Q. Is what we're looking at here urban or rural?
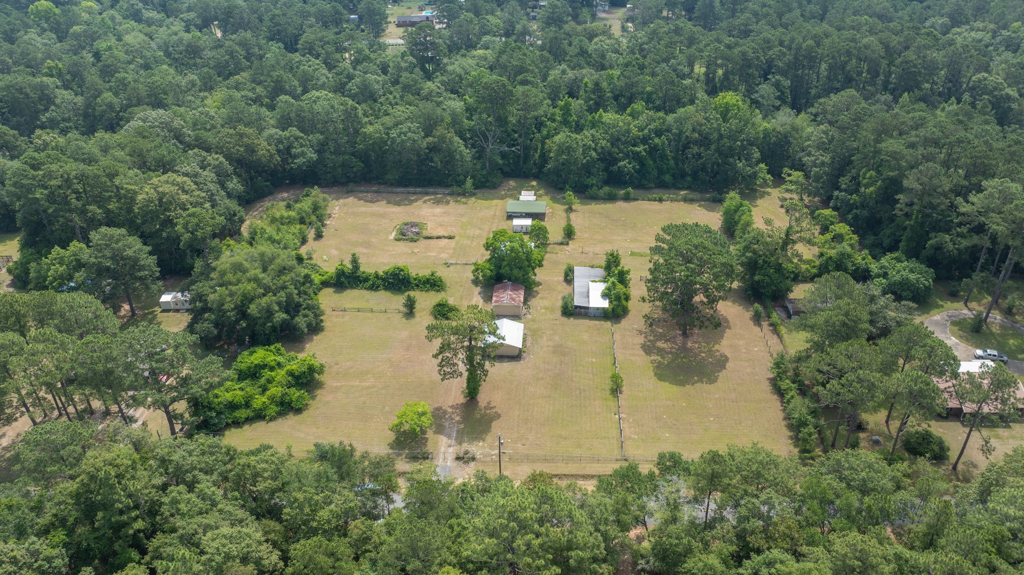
rural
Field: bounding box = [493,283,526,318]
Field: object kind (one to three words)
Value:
shed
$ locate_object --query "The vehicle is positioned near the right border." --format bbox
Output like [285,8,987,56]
[974,349,1011,362]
